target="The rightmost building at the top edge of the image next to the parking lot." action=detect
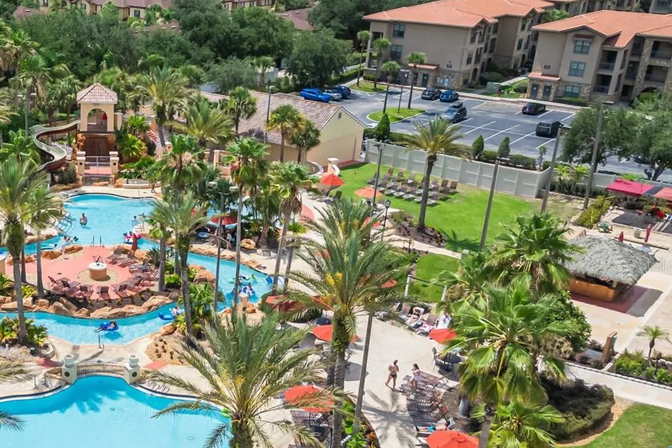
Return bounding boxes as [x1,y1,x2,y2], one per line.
[528,2,672,113]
